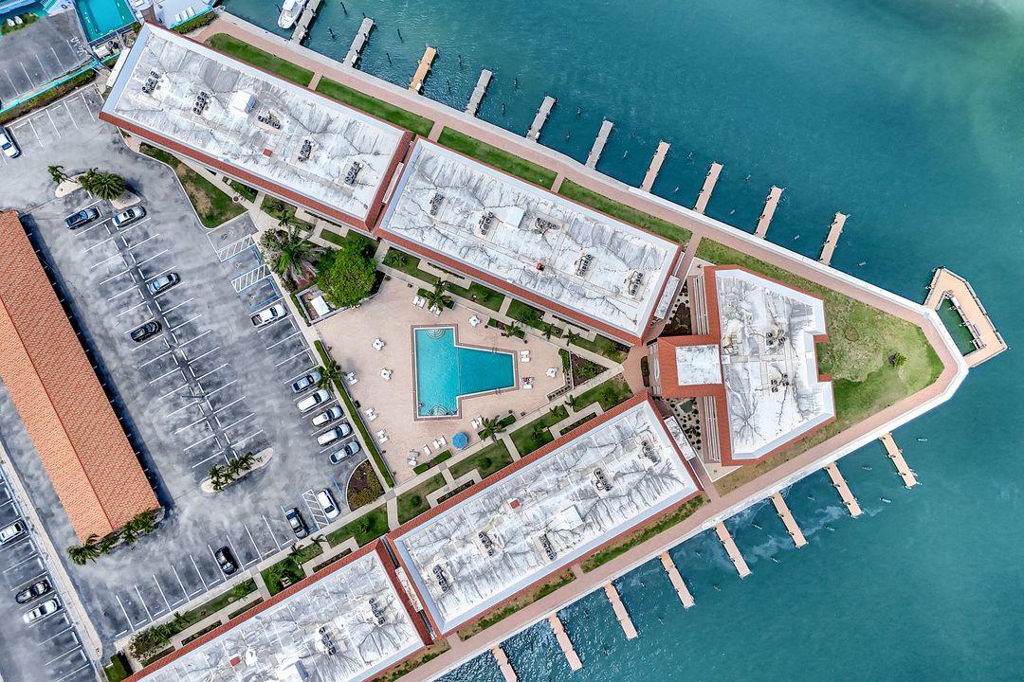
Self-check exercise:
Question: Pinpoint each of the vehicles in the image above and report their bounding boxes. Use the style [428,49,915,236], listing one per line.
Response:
[314,486,341,520]
[129,320,164,343]
[112,205,148,228]
[0,125,20,159]
[16,580,53,604]
[249,302,289,329]
[147,272,181,294]
[328,441,362,464]
[214,543,240,578]
[62,205,102,231]
[316,422,354,447]
[285,506,310,539]
[295,388,333,413]
[310,404,345,428]
[290,371,323,393]
[24,597,61,622]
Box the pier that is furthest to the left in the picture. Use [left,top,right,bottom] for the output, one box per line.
[292,0,321,43]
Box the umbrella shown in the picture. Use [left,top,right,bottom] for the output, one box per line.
[451,432,469,450]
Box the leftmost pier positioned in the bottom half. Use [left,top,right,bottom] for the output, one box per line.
[492,643,521,682]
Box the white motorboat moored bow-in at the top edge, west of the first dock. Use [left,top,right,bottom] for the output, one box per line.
[281,0,305,27]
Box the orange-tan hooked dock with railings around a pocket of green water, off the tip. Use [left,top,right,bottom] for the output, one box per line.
[917,267,1011,367]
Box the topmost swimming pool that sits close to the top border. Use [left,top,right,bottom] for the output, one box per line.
[75,0,137,40]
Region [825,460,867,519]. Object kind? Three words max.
pier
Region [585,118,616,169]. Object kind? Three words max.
pier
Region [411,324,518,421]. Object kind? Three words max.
swimming pool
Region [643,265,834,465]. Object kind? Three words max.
building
